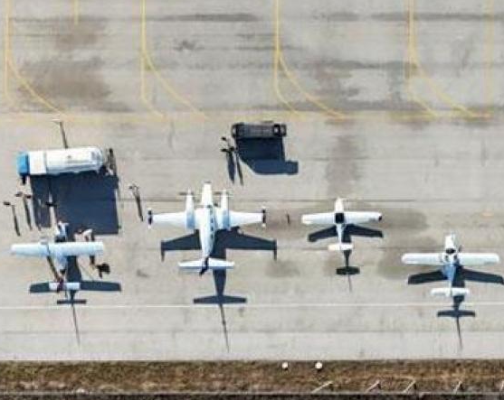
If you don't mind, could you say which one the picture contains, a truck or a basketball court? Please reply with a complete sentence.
This aerial view contains a truck.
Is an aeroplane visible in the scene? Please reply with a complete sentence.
Yes, you can see an aeroplane in this photo.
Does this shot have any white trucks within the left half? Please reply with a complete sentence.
Yes, you'll find a white truck within the left half.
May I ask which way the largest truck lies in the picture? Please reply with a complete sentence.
I'd say the largest truck is aligned from side to side in the picture.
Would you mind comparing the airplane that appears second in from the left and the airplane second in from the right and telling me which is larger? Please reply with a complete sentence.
Of the two, the airplane that appears second in from the left is bigger, while the airplane second in from the right is smaller.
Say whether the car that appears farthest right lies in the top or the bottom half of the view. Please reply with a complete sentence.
You can find the car that appears farthest right in the top half.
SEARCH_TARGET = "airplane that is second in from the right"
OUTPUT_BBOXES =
[301,195,381,254]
